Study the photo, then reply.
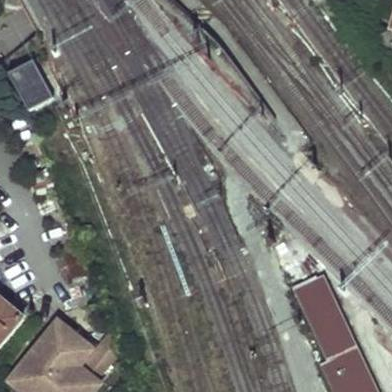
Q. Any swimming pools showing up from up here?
No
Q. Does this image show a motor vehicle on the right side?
No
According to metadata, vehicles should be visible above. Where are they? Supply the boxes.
[8,270,36,291]
[41,294,52,316]
[53,282,70,302]
[4,248,24,264]
[0,186,12,205]
[0,234,17,249]
[41,227,66,242]
[0,212,18,230]
[16,284,37,300]
[2,260,29,280]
